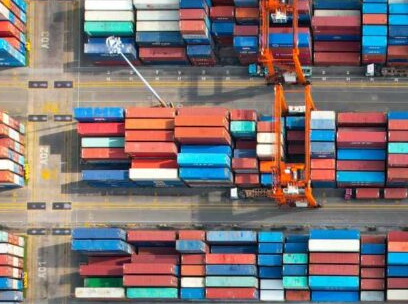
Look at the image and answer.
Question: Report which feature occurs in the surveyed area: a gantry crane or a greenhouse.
gantry crane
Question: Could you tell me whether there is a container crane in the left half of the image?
No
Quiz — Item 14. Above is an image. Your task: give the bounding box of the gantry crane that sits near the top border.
[258,0,315,84]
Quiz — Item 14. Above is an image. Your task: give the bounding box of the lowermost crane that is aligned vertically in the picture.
[270,85,326,209]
